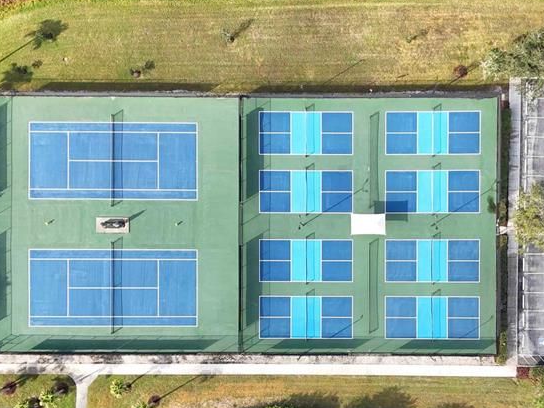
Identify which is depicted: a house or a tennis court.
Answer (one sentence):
Looking from above, you can make out a tennis court.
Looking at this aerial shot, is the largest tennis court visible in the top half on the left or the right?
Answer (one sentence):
You can find the largest tennis court visible in the top half on the left side of the picture.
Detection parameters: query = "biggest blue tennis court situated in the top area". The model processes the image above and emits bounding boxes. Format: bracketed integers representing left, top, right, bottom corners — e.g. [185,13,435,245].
[28,114,197,207]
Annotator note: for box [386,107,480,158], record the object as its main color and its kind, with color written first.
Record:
blue sports court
